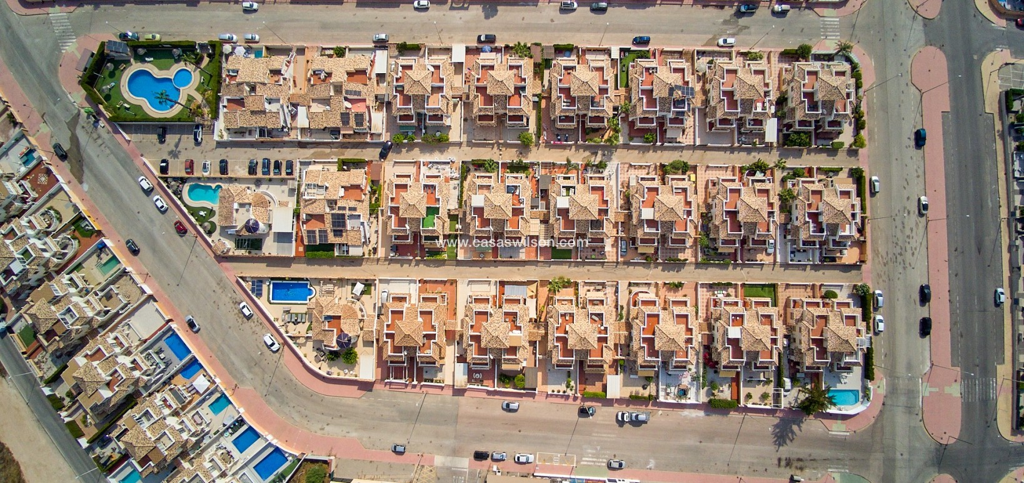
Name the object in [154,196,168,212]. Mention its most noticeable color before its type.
white car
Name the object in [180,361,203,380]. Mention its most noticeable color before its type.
blue swimming pool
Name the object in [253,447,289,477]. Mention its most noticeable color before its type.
blue swimming pool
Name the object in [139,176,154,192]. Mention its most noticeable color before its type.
white car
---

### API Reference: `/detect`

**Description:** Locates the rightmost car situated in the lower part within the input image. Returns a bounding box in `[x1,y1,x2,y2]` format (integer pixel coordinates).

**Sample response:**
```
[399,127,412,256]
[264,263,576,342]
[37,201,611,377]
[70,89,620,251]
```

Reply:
[992,289,1006,305]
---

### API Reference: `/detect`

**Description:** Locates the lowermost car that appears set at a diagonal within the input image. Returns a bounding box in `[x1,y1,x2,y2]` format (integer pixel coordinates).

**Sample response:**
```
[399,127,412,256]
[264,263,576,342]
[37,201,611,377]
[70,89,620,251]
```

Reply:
[95,433,113,449]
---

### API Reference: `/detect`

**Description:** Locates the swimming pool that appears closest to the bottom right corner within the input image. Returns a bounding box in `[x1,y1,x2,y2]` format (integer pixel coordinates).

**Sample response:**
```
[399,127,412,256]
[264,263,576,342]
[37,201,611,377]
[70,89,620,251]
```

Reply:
[828,389,860,406]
